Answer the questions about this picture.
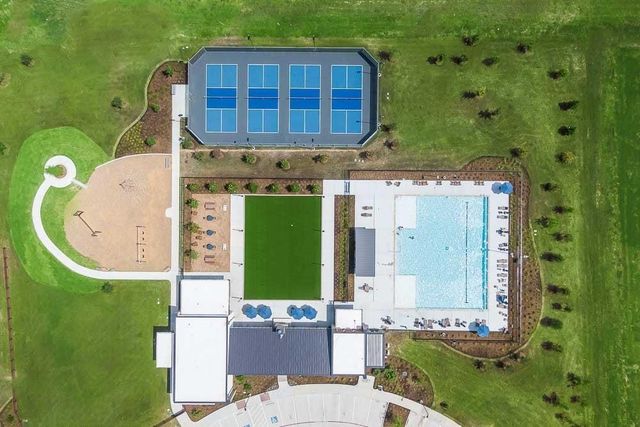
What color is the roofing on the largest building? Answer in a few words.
white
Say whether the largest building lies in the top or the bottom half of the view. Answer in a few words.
bottom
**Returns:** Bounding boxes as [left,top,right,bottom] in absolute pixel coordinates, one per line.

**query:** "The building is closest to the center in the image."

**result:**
[354,228,376,276]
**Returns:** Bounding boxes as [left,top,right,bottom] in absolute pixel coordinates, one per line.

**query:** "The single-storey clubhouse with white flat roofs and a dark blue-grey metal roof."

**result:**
[156,277,385,403]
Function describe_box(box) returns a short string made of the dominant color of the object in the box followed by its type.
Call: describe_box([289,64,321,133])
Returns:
blue sports court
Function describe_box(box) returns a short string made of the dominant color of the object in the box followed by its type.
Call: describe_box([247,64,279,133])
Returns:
blue sports court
